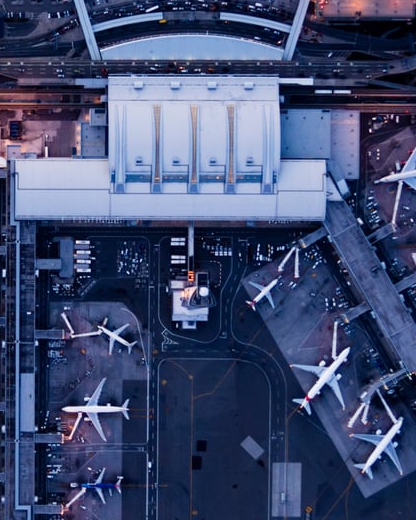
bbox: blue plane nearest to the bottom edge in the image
[81,467,121,505]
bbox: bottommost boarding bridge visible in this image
[65,487,87,510]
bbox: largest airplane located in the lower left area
[62,377,129,442]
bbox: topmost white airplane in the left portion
[98,325,136,357]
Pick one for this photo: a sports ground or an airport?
airport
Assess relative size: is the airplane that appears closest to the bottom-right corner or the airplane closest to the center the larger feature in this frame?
the airplane that appears closest to the bottom-right corner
